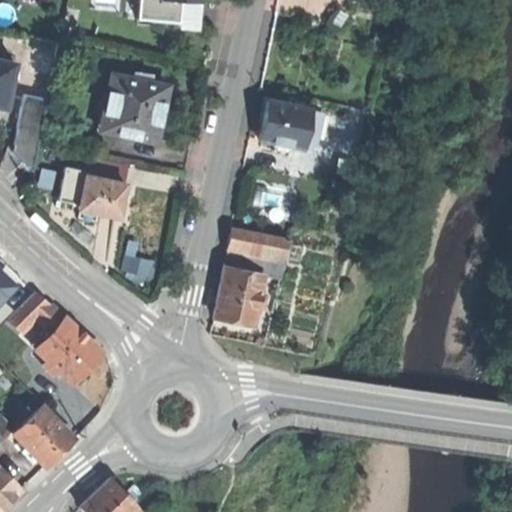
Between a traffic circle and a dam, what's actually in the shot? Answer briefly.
traffic circle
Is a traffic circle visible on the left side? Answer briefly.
Yes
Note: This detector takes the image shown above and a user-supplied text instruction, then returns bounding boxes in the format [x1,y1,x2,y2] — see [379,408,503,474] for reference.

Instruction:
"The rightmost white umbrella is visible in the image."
[268,208,284,224]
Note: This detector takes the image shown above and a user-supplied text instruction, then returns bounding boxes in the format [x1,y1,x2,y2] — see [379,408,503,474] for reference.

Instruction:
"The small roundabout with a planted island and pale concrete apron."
[122,357,230,466]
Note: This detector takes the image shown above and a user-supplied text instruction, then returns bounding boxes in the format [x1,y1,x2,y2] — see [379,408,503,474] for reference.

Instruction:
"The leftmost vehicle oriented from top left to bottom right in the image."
[2,456,16,472]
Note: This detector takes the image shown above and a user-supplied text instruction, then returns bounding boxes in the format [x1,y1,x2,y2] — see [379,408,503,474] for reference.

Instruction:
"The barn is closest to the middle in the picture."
[227,228,292,264]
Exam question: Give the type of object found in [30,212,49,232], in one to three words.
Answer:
vehicle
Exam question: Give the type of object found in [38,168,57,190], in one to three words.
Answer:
shed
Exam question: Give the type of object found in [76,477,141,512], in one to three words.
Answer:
house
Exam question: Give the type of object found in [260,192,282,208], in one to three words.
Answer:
swimming pool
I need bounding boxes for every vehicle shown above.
[134,144,154,154]
[206,114,216,134]
[2,456,16,472]
[184,214,194,232]
[30,212,49,232]
[126,2,134,20]
[8,289,25,306]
